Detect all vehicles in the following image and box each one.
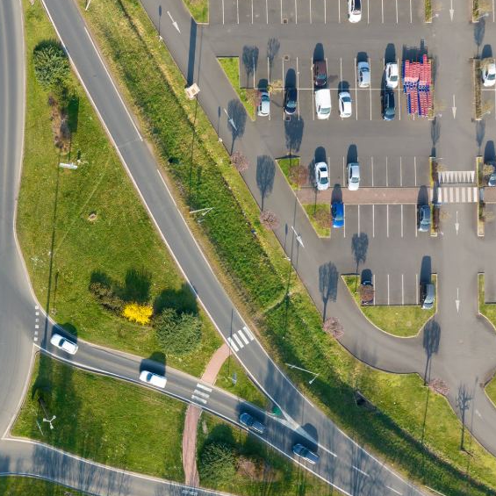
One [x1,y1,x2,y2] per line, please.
[416,205,432,232]
[330,203,345,228]
[347,0,362,22]
[337,92,352,117]
[481,63,496,88]
[315,89,332,119]
[346,163,360,190]
[291,443,320,465]
[237,411,266,433]
[381,92,397,120]
[356,62,370,88]
[312,62,327,87]
[257,92,270,116]
[283,89,298,115]
[384,62,400,90]
[420,282,439,310]
[138,369,168,388]
[314,163,329,190]
[51,334,77,354]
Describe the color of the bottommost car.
blue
